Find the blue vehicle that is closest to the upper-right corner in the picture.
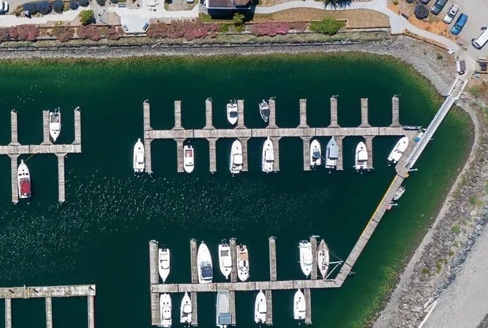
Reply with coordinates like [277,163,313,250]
[451,12,468,35]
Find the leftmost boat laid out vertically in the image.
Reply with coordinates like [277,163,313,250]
[16,159,31,198]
